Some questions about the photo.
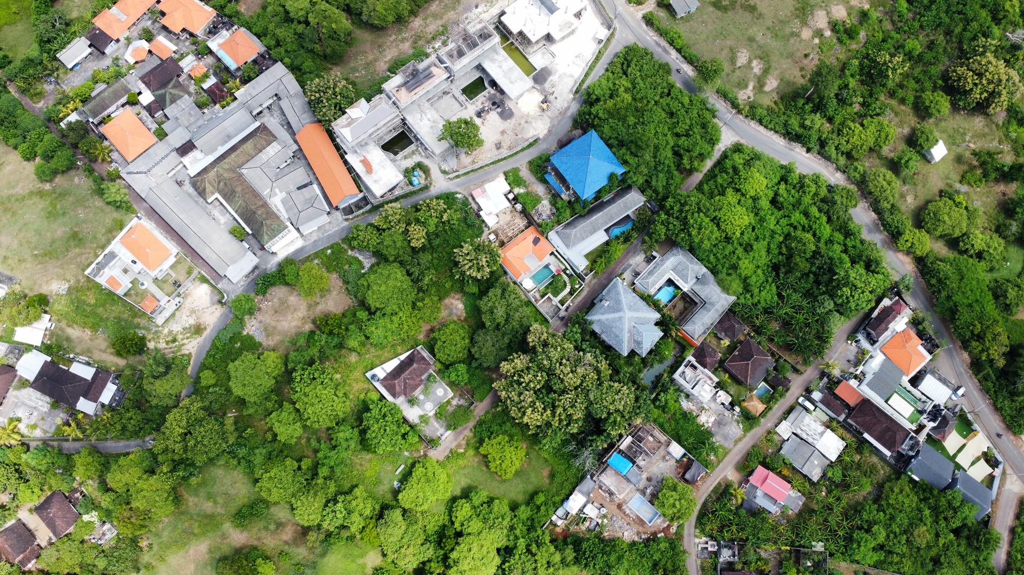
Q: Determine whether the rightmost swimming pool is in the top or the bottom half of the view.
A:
bottom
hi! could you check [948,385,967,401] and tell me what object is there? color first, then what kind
white car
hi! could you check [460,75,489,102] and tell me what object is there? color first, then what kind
green swimming pool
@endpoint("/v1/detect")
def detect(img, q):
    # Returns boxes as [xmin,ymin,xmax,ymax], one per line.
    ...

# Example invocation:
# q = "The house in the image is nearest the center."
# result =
[501,225,556,280]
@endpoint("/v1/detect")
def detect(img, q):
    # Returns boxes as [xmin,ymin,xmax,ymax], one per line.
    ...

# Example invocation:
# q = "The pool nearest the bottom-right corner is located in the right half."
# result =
[895,384,919,407]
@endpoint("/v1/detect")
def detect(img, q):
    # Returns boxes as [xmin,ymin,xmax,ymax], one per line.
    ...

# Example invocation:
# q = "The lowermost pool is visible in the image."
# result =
[626,492,660,525]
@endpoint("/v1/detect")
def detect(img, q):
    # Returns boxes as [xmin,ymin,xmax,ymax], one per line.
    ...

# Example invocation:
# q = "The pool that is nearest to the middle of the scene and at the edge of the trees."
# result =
[529,261,556,288]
